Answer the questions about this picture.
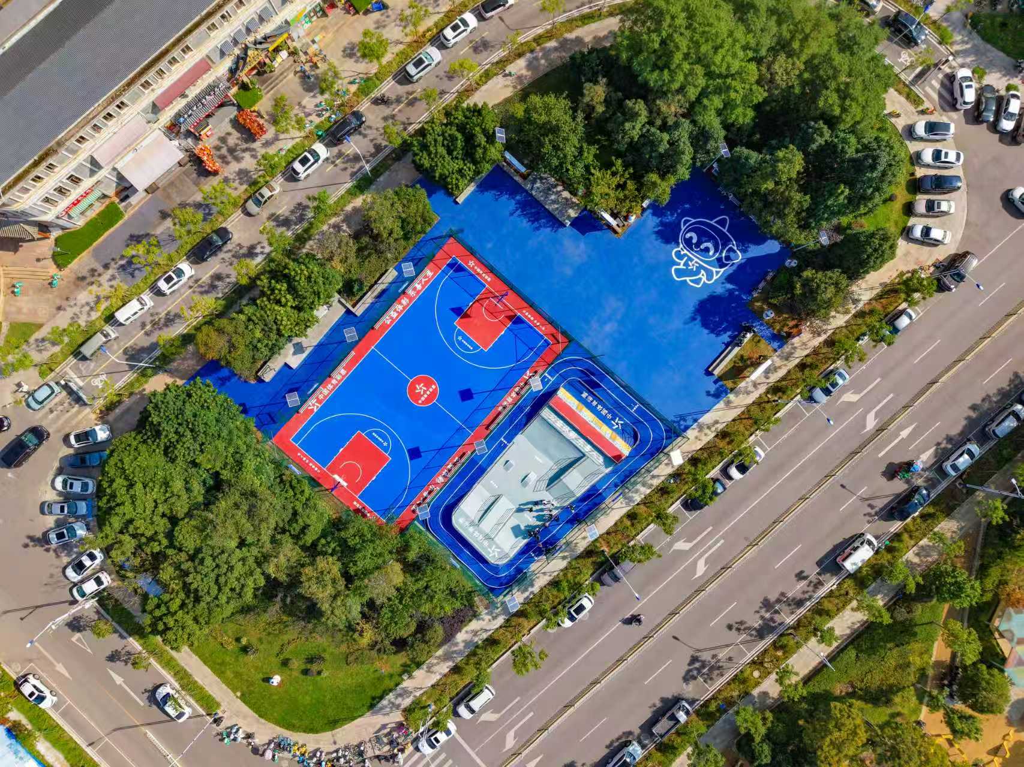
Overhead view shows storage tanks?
No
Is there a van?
Yes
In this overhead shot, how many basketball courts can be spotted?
1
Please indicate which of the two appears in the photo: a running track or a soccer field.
running track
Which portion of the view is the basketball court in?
center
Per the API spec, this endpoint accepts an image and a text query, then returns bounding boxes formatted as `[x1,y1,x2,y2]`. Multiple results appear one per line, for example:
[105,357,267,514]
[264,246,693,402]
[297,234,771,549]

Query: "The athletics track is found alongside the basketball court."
[423,353,668,590]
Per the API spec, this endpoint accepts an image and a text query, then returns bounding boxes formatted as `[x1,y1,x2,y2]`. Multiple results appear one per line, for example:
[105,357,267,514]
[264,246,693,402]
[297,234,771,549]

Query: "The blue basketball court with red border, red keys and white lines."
[272,237,569,537]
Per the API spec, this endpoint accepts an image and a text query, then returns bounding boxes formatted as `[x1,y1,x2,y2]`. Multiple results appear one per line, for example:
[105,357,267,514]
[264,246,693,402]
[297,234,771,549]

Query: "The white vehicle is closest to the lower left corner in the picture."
[18,671,59,710]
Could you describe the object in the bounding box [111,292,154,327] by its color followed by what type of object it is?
white vehicle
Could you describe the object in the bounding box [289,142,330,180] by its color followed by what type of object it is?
white car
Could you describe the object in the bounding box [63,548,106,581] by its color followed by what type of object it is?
white car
